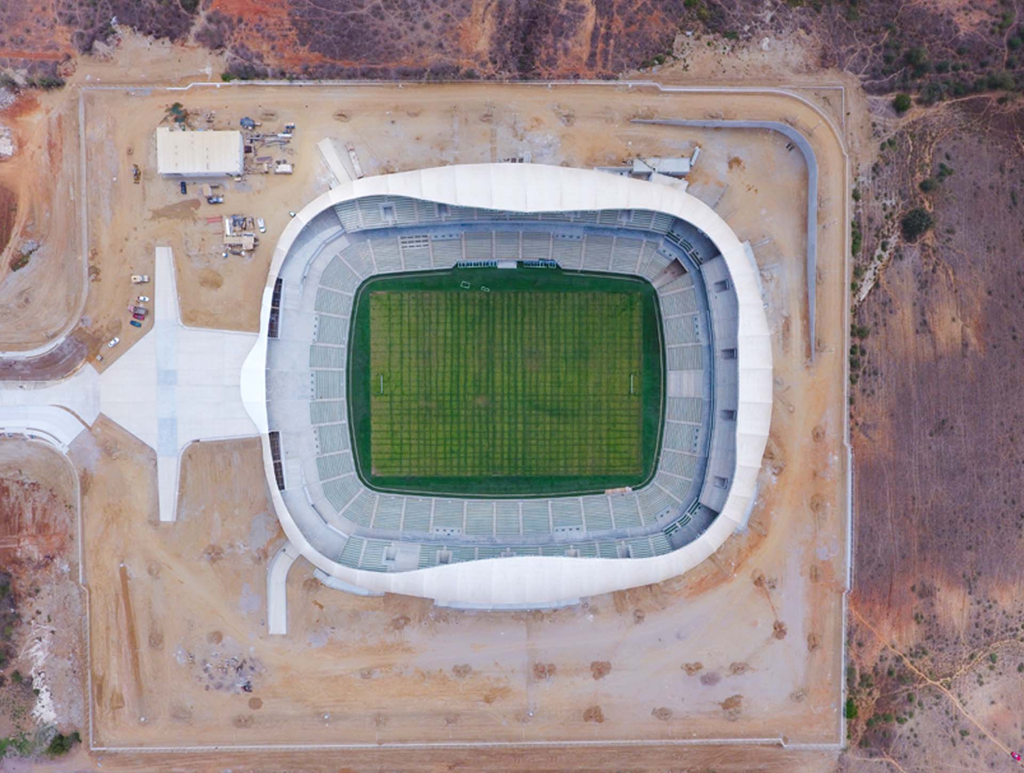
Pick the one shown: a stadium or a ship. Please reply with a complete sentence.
I can see a stadium in this picture.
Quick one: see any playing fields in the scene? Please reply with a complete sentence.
Yes, there's a playing field here.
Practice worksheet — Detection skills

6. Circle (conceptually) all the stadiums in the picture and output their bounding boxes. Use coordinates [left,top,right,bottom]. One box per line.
[240,163,773,611]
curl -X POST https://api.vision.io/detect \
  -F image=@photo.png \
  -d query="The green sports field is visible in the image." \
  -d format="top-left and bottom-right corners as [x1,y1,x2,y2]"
[346,263,667,502]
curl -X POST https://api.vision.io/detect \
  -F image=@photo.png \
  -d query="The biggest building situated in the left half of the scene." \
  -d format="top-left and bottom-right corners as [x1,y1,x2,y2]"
[157,127,246,177]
